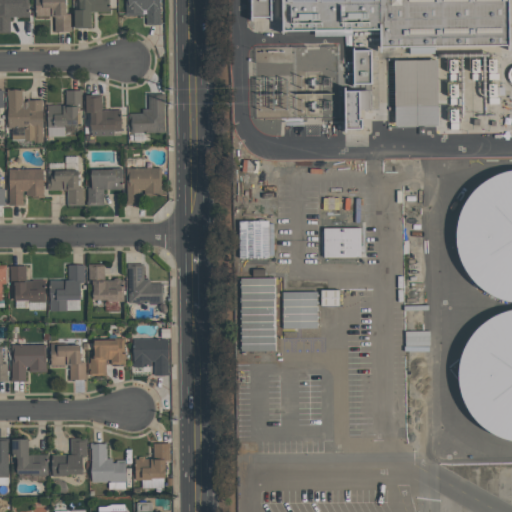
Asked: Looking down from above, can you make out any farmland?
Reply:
No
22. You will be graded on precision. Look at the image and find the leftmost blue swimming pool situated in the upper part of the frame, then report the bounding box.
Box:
[22,150,44,167]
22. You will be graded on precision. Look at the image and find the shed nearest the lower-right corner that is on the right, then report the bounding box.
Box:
[406,332,431,346]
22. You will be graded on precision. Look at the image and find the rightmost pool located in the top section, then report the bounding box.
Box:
[145,149,166,166]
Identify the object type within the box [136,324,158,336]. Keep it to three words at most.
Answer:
swimming pool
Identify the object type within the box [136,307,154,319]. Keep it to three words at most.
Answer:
swimming pool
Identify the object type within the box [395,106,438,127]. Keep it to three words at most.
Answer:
building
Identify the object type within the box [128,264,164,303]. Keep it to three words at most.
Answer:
house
